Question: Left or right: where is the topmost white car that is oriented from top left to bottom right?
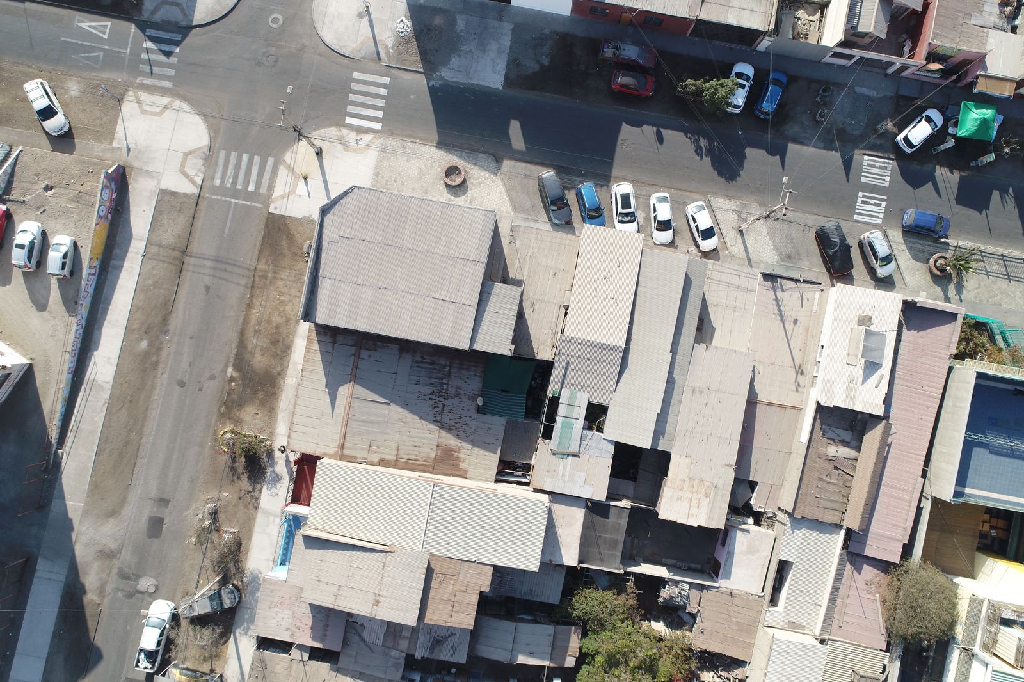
left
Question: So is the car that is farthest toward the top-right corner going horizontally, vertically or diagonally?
diagonally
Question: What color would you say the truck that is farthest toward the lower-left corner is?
white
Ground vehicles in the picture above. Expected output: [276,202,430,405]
[608,70,658,99]
[599,39,658,71]
[610,182,639,233]
[649,192,676,245]
[536,168,571,226]
[751,69,786,122]
[574,181,606,227]
[725,61,757,117]
[857,229,894,279]
[684,199,718,253]
[814,221,852,278]
[899,209,950,237]
[892,108,943,157]
[44,235,80,280]
[135,600,176,673]
[9,221,48,273]
[21,78,72,137]
[181,582,241,617]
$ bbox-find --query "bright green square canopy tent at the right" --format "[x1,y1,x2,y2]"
[941,101,998,151]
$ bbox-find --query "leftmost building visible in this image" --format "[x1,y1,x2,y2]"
[0,341,32,403]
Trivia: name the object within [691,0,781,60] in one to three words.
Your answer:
house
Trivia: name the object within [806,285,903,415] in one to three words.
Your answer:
house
